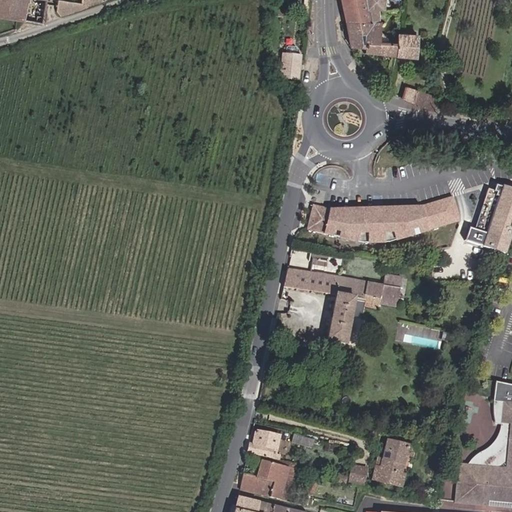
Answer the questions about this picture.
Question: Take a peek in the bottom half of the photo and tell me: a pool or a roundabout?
pool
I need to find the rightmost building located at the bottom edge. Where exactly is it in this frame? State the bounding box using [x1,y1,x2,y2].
[455,384,512,506]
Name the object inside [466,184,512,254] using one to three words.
building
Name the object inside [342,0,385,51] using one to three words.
building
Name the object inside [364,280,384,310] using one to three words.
house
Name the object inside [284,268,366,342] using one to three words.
house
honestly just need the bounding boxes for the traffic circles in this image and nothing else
[323,96,366,140]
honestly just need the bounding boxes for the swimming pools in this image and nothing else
[396,323,442,350]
